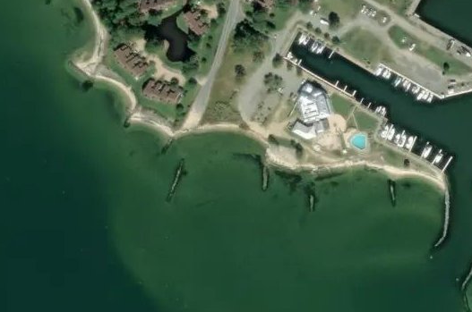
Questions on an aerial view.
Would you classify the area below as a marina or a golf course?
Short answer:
marina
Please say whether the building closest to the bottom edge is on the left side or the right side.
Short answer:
right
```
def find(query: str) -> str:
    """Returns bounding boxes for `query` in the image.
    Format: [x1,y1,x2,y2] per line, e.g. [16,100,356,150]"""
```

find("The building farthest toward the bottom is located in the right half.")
[289,118,329,142]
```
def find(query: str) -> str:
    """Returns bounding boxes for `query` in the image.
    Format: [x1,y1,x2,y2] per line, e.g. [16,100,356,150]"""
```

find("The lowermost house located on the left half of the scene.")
[144,80,181,104]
